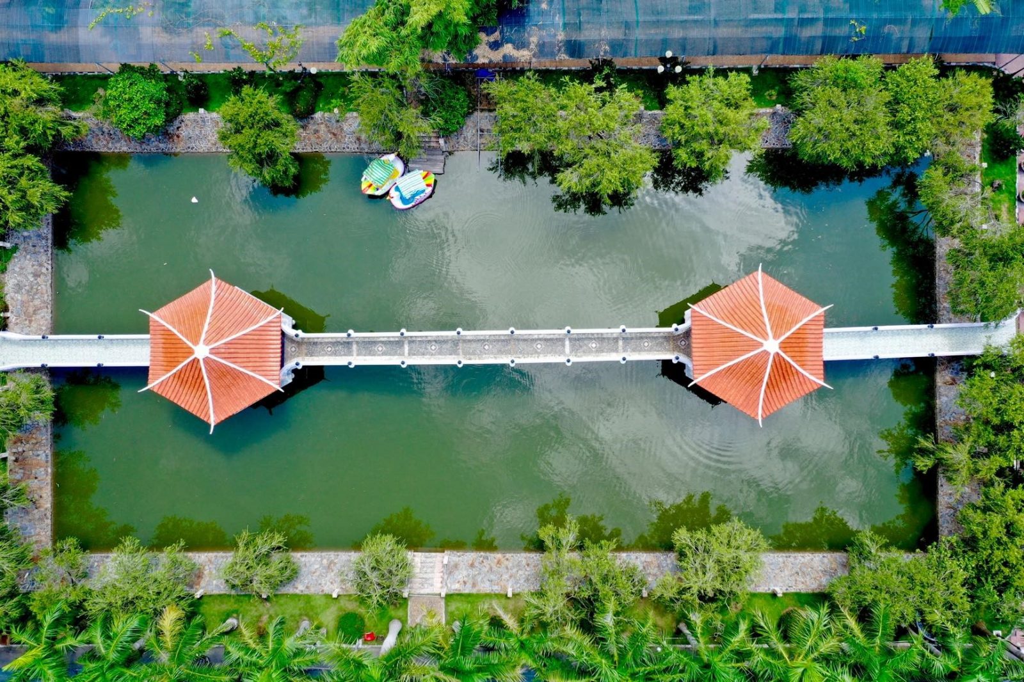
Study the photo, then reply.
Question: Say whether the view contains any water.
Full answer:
Yes, the picture does contain water.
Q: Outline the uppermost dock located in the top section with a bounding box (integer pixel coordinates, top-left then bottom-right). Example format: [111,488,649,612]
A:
[408,150,439,176]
